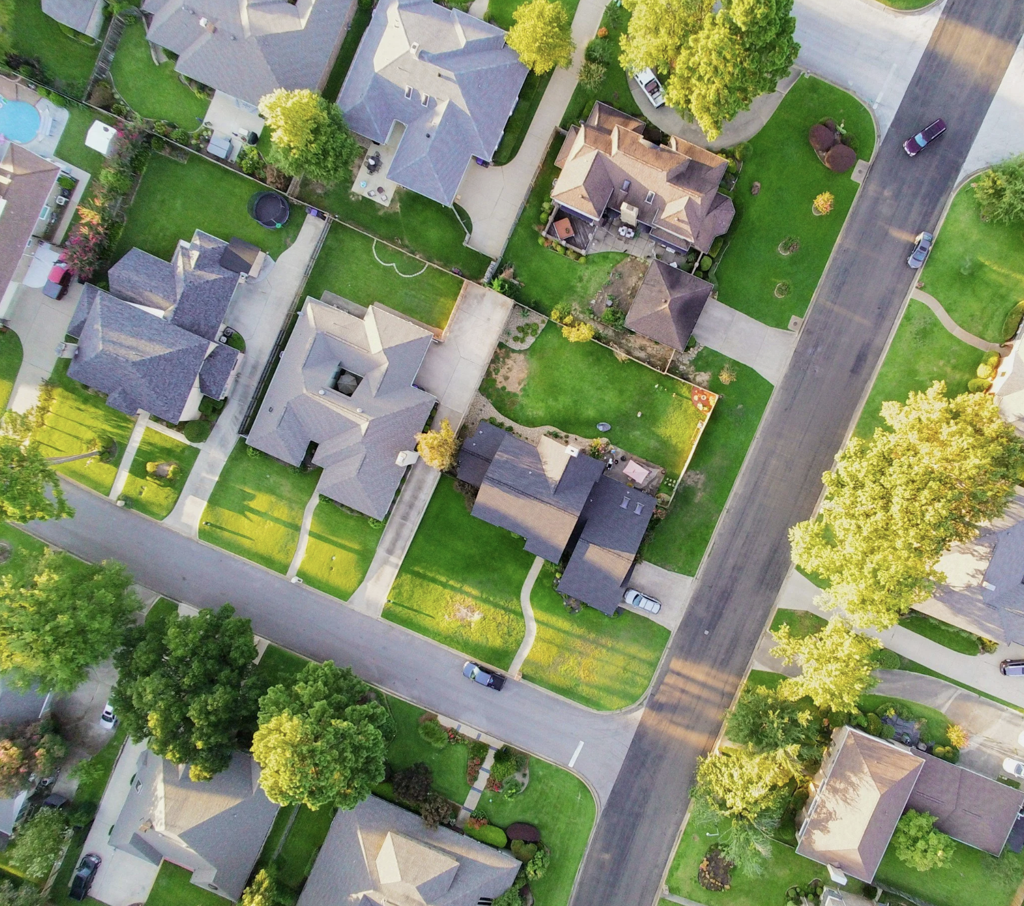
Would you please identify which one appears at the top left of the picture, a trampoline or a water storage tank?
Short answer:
trampoline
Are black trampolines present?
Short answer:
Yes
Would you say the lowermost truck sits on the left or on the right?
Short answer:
left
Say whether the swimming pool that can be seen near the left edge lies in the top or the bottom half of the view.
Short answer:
top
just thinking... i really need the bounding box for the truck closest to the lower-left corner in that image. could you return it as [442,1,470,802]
[68,848,104,904]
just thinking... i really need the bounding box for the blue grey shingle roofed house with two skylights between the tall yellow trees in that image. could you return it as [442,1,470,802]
[334,0,532,210]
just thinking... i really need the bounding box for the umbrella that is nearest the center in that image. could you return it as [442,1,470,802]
[623,458,648,483]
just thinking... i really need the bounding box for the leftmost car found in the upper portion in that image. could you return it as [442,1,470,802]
[47,261,76,301]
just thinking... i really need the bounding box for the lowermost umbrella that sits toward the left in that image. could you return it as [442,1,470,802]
[336,372,360,395]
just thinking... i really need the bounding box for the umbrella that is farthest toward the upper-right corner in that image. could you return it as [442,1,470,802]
[553,218,576,241]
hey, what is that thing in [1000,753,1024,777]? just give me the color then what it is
white car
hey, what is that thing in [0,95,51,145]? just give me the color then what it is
blue swimming pool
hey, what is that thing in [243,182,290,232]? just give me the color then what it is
black trampoline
